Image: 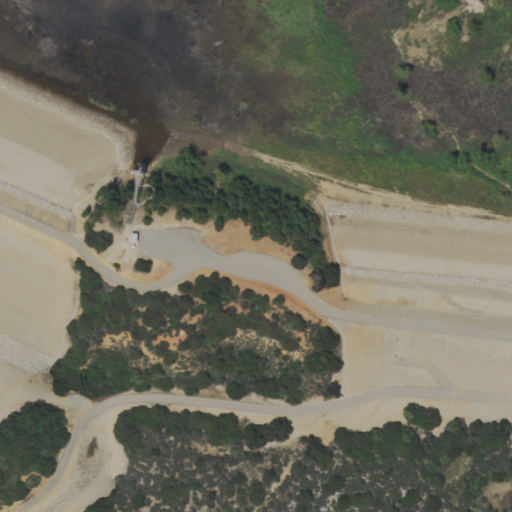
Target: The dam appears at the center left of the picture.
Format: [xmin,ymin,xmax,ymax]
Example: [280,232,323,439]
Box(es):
[0,70,137,374]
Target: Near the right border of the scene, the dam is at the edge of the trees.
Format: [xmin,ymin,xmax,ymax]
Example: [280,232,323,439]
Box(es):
[324,200,512,397]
